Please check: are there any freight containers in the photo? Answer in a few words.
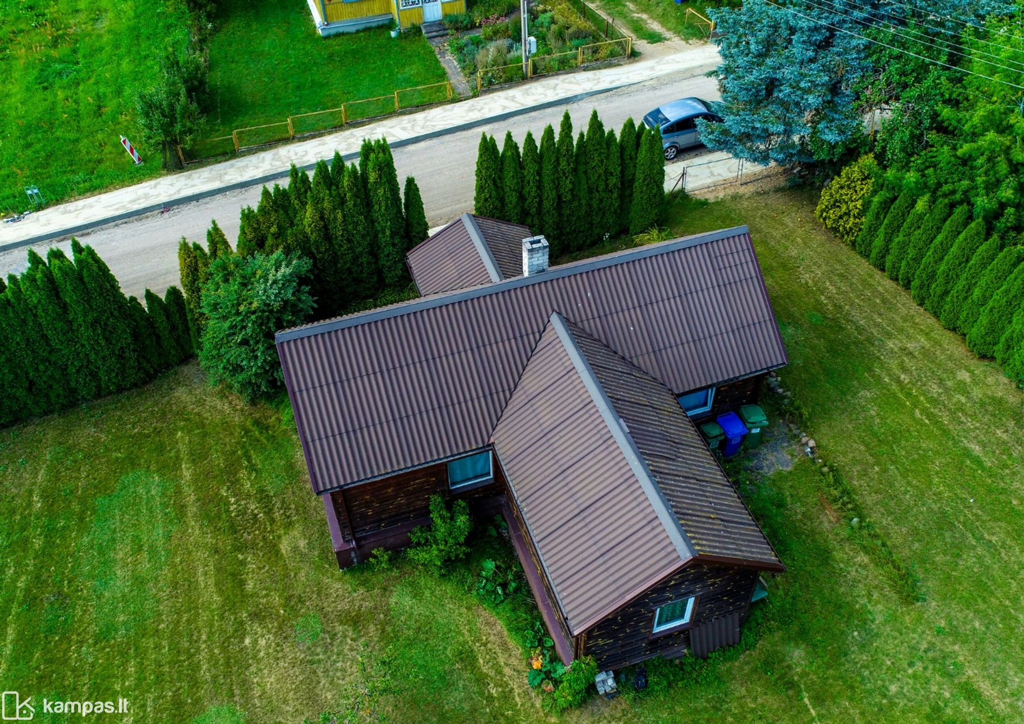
No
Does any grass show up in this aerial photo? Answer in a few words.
Yes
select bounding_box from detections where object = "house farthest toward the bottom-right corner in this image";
[275,210,789,692]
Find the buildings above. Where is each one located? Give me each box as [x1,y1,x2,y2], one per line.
[296,0,470,35]
[275,210,789,692]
